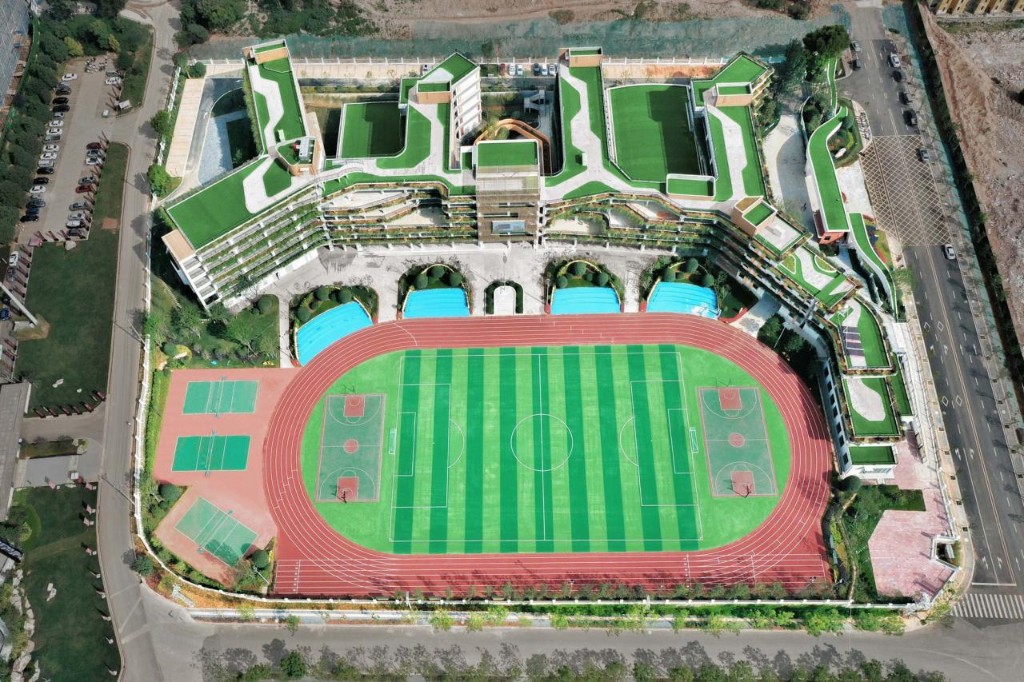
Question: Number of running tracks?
1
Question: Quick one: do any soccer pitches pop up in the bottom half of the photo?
Yes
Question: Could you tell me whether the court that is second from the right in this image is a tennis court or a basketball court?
basketball court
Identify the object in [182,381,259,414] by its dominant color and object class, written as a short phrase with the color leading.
green sports court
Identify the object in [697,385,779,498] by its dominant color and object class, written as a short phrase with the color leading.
green basketball court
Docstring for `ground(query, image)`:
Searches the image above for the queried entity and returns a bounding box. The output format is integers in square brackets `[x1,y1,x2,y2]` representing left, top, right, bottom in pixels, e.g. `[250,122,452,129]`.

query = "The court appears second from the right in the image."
[313,393,387,503]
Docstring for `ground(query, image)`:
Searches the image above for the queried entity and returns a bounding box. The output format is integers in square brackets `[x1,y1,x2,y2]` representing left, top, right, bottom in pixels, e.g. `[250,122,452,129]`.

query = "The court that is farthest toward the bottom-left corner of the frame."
[175,496,258,567]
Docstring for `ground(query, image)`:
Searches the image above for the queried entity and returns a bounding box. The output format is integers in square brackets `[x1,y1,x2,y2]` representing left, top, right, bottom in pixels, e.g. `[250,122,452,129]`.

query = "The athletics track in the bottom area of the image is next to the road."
[263,311,834,597]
